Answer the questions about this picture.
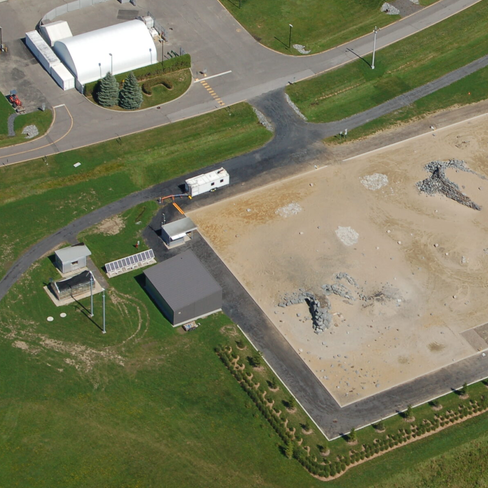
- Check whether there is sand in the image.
Yes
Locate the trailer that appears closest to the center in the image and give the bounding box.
[182,167,229,199]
